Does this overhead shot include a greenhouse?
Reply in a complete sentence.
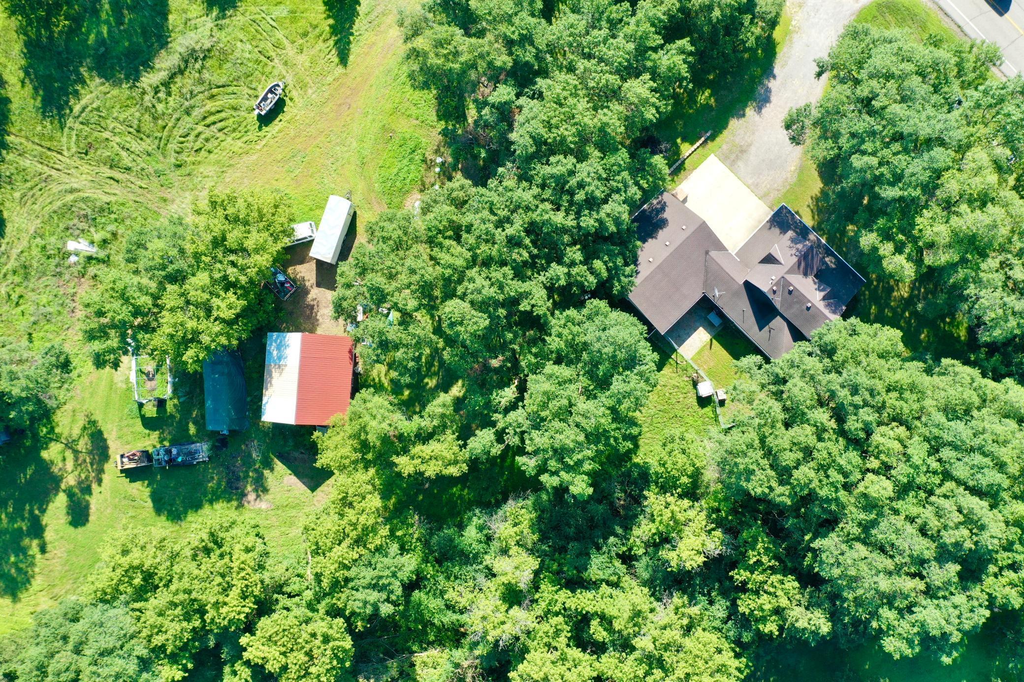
Yes, the frame does contain a greenhouse.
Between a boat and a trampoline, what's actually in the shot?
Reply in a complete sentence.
Looking from above, you can make out a boat.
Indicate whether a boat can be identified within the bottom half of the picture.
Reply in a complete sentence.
No, the scene shows no boat within the bottom half of the picture.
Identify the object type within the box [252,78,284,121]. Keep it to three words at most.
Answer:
boat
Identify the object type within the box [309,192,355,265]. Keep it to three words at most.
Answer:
trailer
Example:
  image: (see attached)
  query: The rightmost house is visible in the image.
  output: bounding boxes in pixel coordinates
[596,191,867,354]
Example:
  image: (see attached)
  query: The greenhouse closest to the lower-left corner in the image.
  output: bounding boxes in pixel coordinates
[131,355,179,404]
